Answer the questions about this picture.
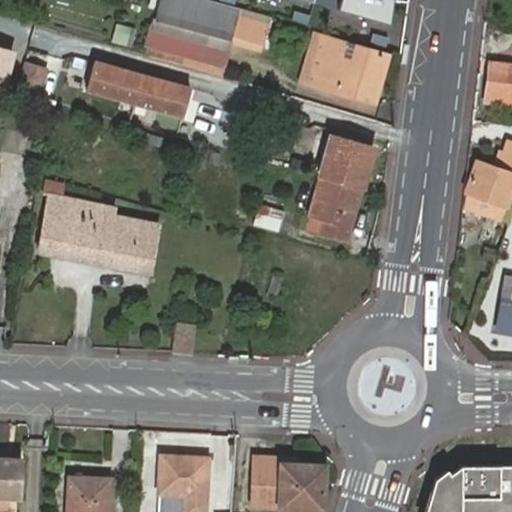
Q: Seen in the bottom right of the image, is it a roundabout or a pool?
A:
roundabout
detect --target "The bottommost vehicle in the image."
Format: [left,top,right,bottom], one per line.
[390,470,402,492]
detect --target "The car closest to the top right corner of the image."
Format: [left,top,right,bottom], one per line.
[429,30,442,52]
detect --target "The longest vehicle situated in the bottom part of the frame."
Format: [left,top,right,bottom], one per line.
[423,280,439,372]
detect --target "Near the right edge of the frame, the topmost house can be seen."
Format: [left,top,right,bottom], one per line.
[482,61,512,108]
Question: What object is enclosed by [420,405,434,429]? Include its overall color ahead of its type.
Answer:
white car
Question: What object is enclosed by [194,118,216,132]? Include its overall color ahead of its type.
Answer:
white car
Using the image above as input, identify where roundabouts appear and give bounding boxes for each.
[306,284,476,486]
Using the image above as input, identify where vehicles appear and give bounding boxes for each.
[390,470,402,492]
[354,212,368,238]
[423,280,439,372]
[46,72,56,94]
[100,276,123,286]
[194,118,216,132]
[199,104,224,118]
[429,30,442,52]
[420,405,434,429]
[258,406,279,416]
[148,0,158,14]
